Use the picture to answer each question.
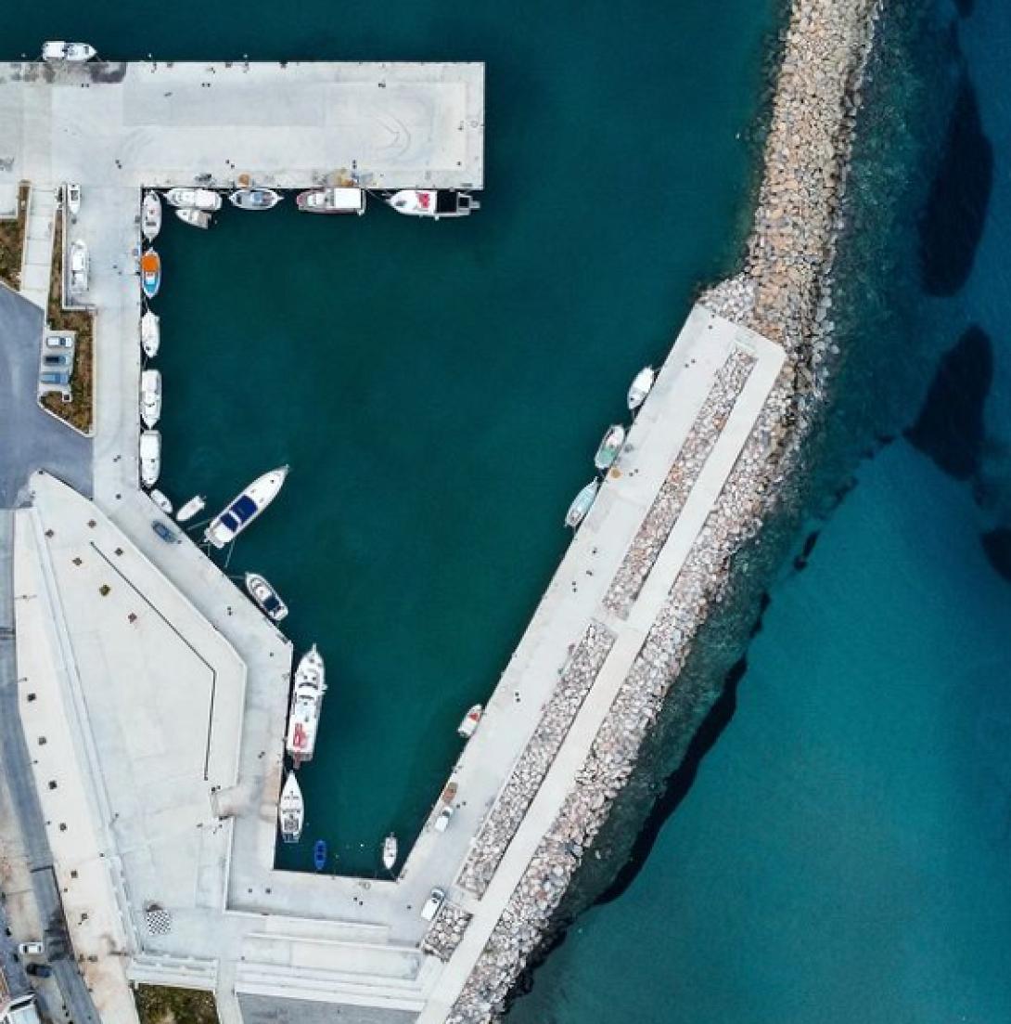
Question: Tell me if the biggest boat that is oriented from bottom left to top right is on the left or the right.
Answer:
left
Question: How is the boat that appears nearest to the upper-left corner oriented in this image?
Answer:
horizontally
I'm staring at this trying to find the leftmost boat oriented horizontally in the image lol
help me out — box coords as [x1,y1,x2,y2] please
[40,40,97,62]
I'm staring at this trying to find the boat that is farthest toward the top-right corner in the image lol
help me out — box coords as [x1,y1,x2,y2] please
[629,366,658,409]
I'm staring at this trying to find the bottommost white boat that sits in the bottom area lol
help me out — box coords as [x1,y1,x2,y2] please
[383,834,396,870]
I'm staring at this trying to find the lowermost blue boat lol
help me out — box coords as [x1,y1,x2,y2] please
[314,837,327,870]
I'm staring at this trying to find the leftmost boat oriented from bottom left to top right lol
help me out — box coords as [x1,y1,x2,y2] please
[177,495,207,522]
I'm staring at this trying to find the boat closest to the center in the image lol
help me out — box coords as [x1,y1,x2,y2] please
[563,474,599,530]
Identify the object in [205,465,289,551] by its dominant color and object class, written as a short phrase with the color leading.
white boat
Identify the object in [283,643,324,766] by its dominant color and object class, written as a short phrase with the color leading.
white boat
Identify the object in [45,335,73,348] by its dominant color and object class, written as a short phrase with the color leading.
white vehicle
